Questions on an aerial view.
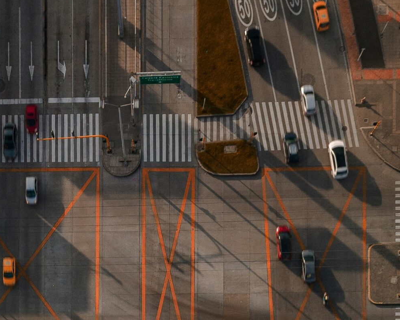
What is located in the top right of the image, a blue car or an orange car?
orange car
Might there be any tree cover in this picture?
No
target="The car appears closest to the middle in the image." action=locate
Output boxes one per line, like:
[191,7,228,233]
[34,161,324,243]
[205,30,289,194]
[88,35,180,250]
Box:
[281,132,300,166]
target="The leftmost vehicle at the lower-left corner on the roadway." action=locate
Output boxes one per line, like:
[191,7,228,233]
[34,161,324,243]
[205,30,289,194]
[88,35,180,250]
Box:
[1,256,17,287]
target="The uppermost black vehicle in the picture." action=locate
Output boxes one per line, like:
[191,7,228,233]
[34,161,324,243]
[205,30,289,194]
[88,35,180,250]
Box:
[244,26,265,69]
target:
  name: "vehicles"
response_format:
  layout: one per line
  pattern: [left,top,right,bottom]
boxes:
[1,122,18,162]
[327,140,349,181]
[310,1,329,34]
[1,256,17,287]
[23,177,39,206]
[274,225,292,260]
[298,85,316,118]
[23,104,39,135]
[281,132,300,166]
[244,26,265,69]
[299,250,316,285]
